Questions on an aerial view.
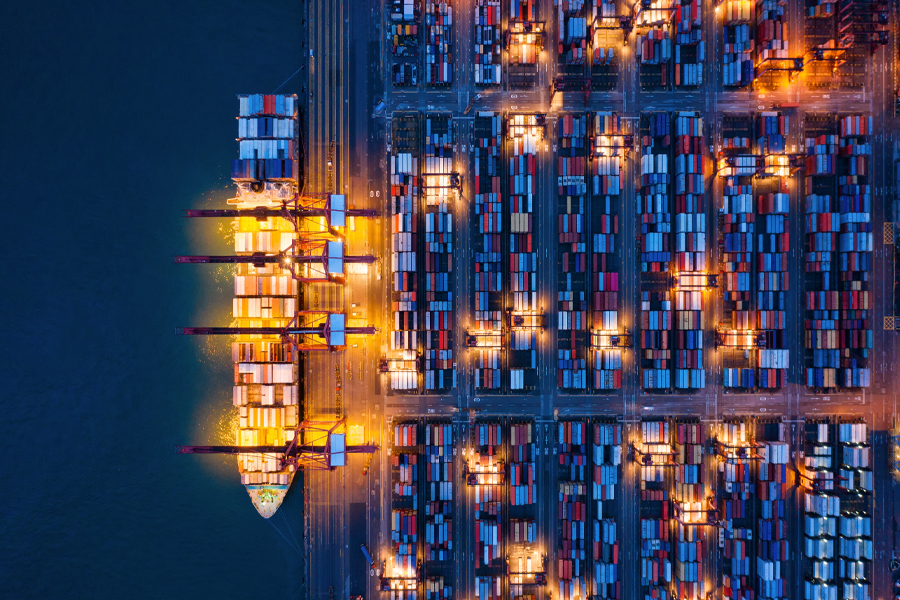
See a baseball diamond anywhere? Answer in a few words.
No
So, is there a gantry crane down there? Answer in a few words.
Yes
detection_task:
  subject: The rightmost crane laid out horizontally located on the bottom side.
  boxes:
[796,471,849,492]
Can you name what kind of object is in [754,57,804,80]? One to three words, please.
container crane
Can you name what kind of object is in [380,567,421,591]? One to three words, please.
container crane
